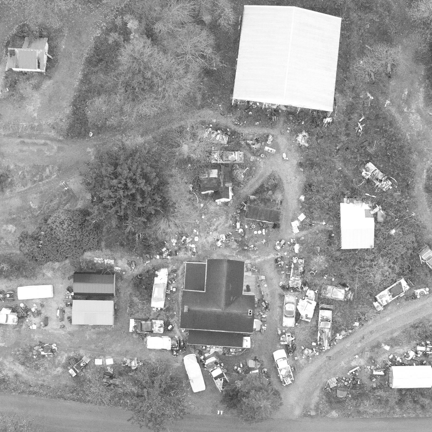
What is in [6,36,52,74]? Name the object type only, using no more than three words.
shed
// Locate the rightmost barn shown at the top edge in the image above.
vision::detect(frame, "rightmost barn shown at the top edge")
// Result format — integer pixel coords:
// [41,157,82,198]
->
[232,5,342,117]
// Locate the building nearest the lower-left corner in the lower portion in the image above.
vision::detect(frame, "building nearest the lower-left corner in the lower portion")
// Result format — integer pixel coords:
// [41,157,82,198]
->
[72,300,113,325]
